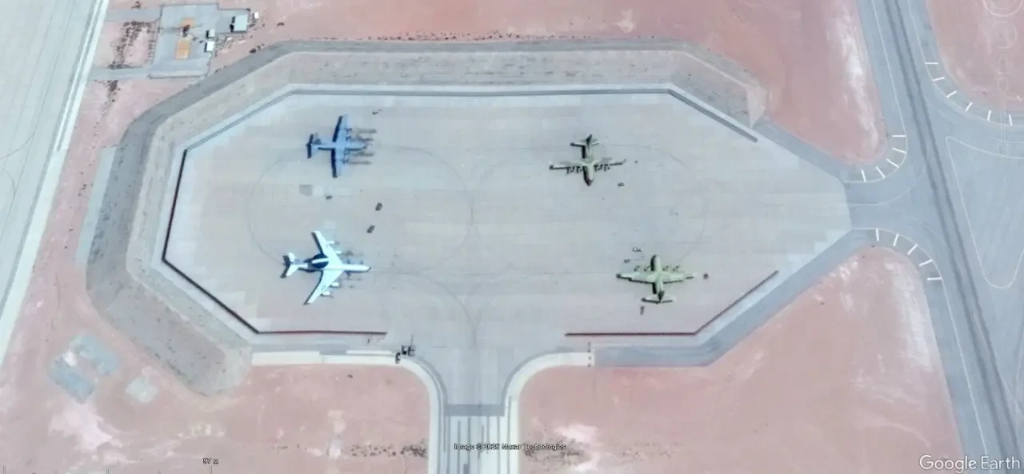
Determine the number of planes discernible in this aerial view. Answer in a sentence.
I count 4 planes.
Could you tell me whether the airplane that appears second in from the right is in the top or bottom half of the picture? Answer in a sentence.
The top half of the photo is where the airplane that appears second in from the right is.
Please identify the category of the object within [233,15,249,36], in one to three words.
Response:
building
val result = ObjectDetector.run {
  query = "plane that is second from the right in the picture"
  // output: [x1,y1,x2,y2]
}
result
[551,134,626,186]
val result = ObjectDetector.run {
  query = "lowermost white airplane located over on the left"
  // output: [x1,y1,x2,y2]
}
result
[286,231,370,303]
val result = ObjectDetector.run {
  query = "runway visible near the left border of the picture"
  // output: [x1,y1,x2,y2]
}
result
[0,0,109,372]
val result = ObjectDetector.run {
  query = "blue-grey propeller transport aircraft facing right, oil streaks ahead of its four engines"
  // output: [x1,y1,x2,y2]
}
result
[307,116,365,178]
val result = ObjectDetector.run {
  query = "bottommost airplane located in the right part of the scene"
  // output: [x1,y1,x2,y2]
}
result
[621,255,696,304]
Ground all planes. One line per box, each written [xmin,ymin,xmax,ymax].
[286,231,370,303]
[621,255,696,304]
[551,134,626,186]
[307,116,365,178]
